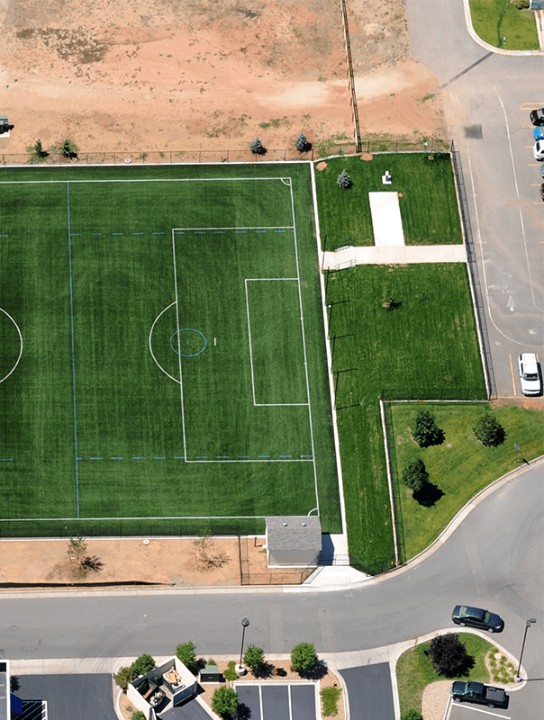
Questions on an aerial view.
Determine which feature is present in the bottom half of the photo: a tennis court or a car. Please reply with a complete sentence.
It is a car that can be seen in the bottom half of the photo.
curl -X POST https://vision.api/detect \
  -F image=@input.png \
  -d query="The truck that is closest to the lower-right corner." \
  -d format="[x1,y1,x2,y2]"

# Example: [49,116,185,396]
[449,681,512,712]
